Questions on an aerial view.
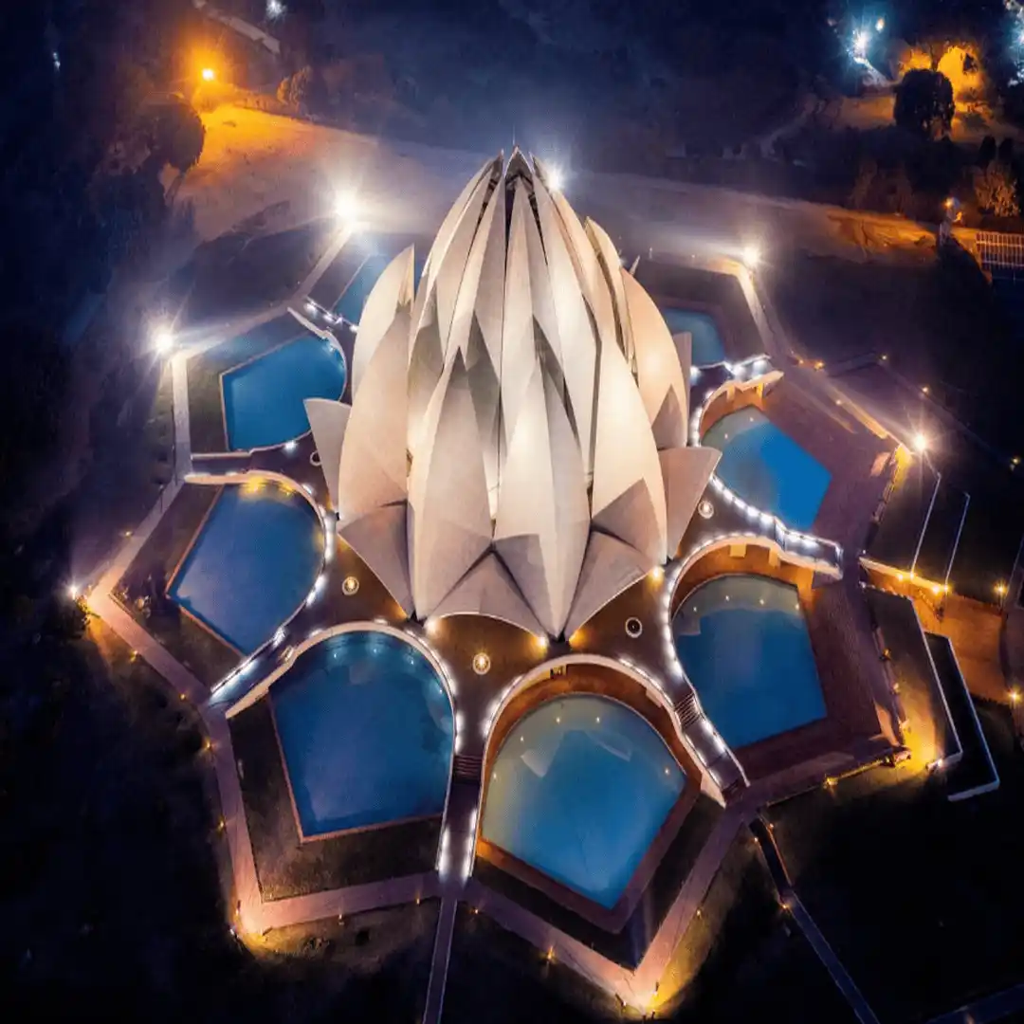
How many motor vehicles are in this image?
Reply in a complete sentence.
There are no motor vehicles in the image.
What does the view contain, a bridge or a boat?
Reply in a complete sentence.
I can see a bridge in this picture.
